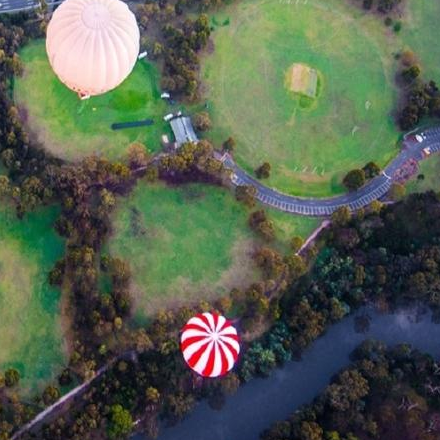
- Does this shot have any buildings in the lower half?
No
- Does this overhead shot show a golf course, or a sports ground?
sports ground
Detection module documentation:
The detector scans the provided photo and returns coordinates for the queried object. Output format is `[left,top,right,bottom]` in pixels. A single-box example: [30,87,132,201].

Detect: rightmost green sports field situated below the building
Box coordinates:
[110,181,264,320]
